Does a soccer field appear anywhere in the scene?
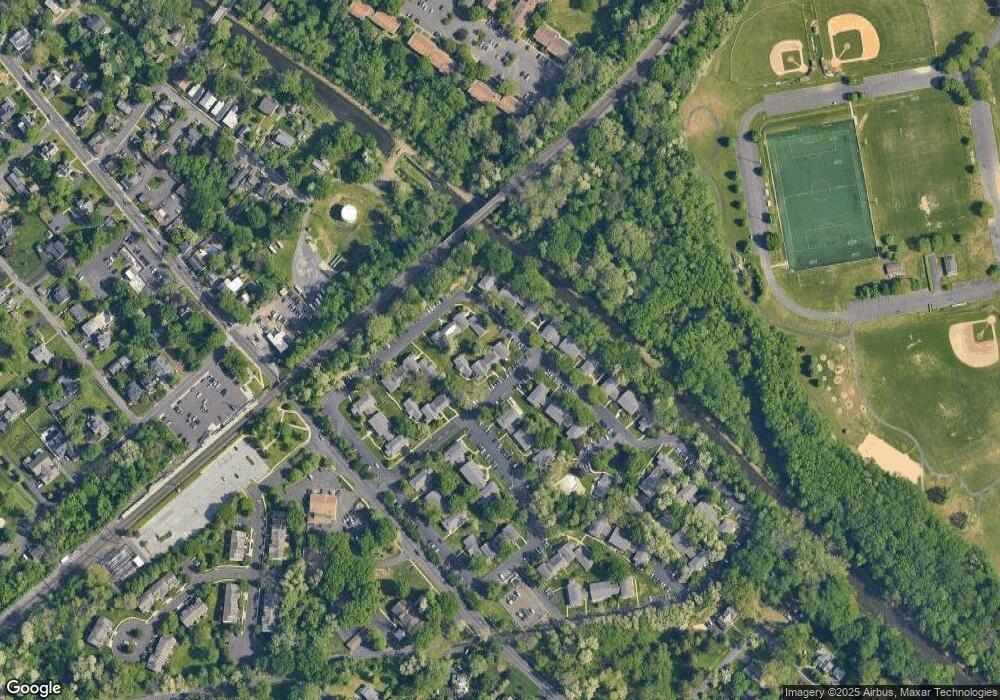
Yes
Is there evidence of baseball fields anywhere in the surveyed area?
Yes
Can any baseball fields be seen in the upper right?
Yes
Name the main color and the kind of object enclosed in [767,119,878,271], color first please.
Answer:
green soccer field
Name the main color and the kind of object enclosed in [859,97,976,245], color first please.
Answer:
green soccer field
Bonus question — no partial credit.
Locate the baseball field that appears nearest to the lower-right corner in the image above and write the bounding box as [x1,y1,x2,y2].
[852,309,1000,470]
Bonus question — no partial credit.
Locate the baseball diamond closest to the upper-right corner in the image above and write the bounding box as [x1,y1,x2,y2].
[823,0,938,76]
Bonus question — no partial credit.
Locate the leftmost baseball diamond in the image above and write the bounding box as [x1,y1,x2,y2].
[730,1,812,88]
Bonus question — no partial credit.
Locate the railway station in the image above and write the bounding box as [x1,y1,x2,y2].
[121,387,255,516]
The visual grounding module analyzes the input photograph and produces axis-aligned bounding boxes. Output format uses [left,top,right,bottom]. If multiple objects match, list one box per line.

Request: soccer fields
[767,119,878,271]
[859,97,976,245]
